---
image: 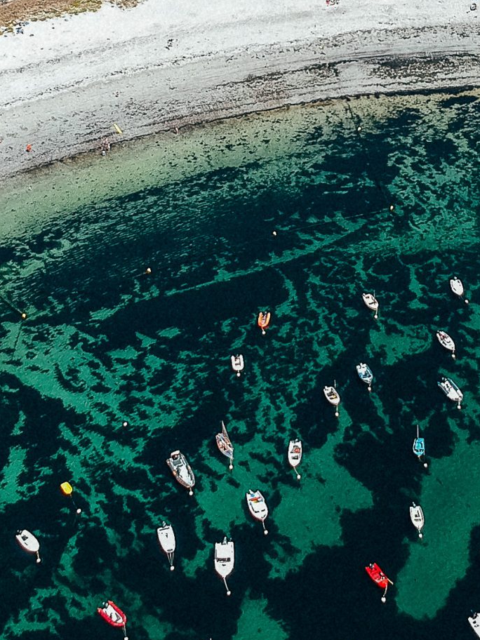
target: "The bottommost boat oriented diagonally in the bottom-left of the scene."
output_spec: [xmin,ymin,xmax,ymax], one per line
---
[96,599,126,632]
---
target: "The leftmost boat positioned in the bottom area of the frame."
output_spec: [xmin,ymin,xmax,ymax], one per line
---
[14,527,39,557]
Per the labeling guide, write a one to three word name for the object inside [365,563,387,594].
boat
